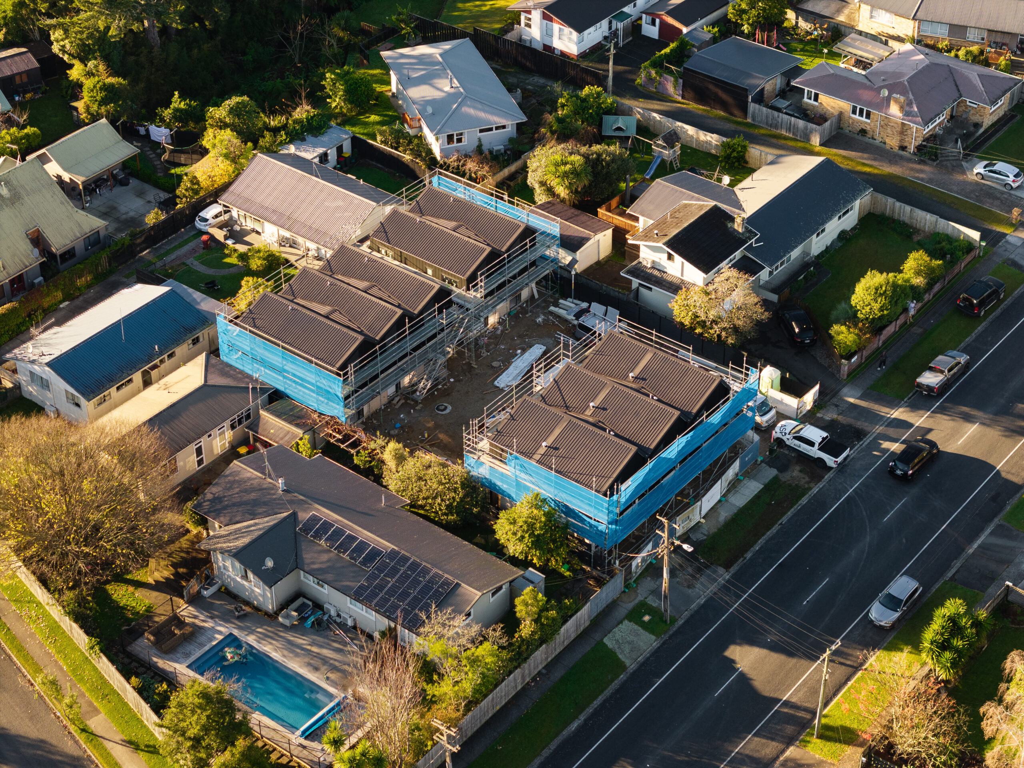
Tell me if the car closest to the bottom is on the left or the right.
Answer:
right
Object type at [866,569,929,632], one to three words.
car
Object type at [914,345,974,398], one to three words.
truck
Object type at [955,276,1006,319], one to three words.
car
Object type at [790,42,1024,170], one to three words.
house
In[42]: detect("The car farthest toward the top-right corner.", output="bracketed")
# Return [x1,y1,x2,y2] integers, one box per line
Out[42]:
[973,160,1024,190]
